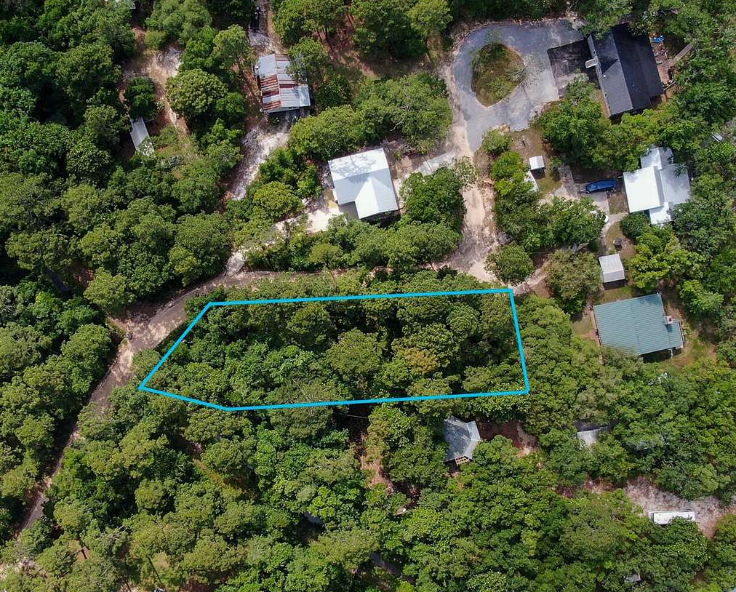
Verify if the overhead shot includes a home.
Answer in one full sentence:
Yes, a home is visible in the scene.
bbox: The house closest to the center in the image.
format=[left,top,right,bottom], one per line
[328,148,397,217]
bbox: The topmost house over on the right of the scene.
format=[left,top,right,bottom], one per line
[577,29,666,116]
